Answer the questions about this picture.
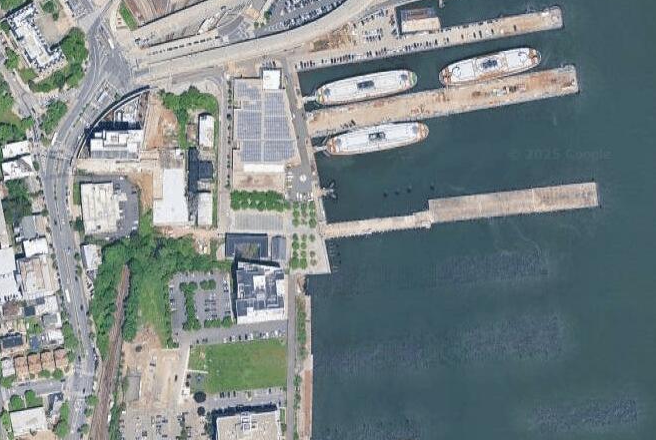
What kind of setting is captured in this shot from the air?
port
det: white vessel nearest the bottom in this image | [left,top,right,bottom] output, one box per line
[324,124,430,161]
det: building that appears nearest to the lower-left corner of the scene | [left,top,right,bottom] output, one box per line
[10,407,47,438]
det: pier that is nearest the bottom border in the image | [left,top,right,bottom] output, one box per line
[324,209,433,240]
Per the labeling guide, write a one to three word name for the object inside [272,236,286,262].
building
